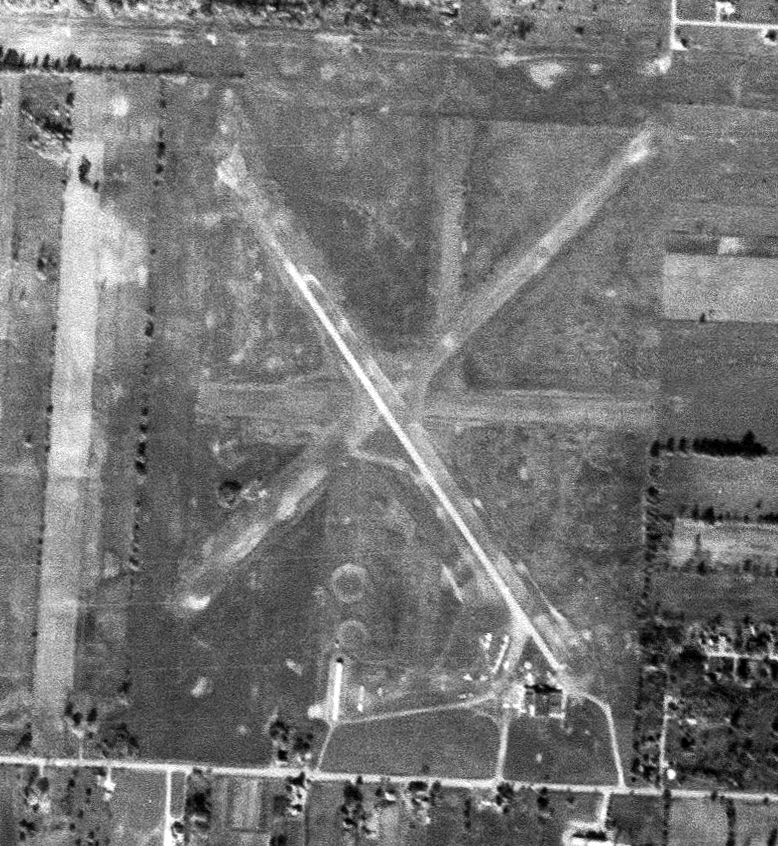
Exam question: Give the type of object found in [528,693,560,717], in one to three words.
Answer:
hangar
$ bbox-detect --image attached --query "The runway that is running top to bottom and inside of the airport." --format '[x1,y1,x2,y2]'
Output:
[434,119,468,334]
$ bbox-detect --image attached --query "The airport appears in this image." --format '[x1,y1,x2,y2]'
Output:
[140,84,656,785]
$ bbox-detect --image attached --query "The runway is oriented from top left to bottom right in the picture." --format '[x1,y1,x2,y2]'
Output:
[281,256,563,672]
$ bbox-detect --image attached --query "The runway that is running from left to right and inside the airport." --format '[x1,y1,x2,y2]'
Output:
[200,382,655,425]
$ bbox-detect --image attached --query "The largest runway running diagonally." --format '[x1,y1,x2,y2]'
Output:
[184,137,656,610]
